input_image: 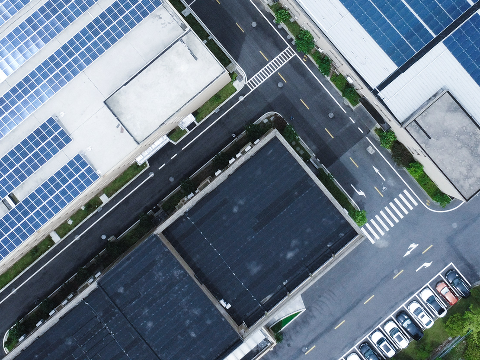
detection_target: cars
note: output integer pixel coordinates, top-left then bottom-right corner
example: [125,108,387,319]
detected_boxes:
[434,280,459,308]
[372,332,401,360]
[444,268,472,299]
[396,310,424,342]
[384,321,412,352]
[421,290,449,321]
[409,299,437,331]
[348,354,363,360]
[360,343,384,360]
